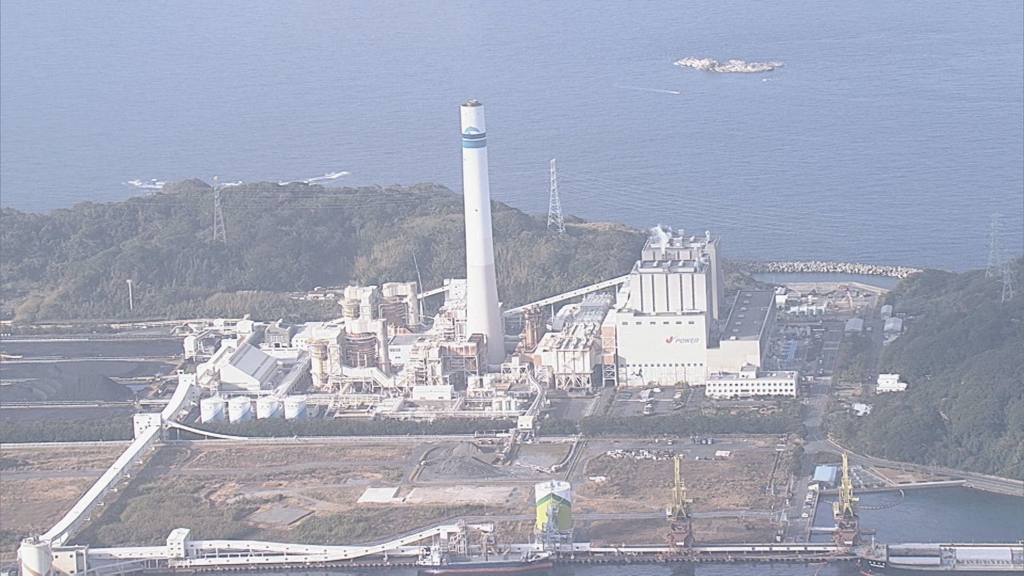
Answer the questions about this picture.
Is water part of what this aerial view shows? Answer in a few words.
Yes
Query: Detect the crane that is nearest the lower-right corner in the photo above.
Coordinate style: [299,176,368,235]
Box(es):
[827,451,867,555]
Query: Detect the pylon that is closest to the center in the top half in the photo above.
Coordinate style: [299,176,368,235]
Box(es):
[546,158,564,236]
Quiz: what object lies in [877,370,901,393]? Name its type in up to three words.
house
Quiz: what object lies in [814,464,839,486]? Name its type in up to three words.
shed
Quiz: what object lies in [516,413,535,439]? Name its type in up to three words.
house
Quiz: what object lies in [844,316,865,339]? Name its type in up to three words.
shed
